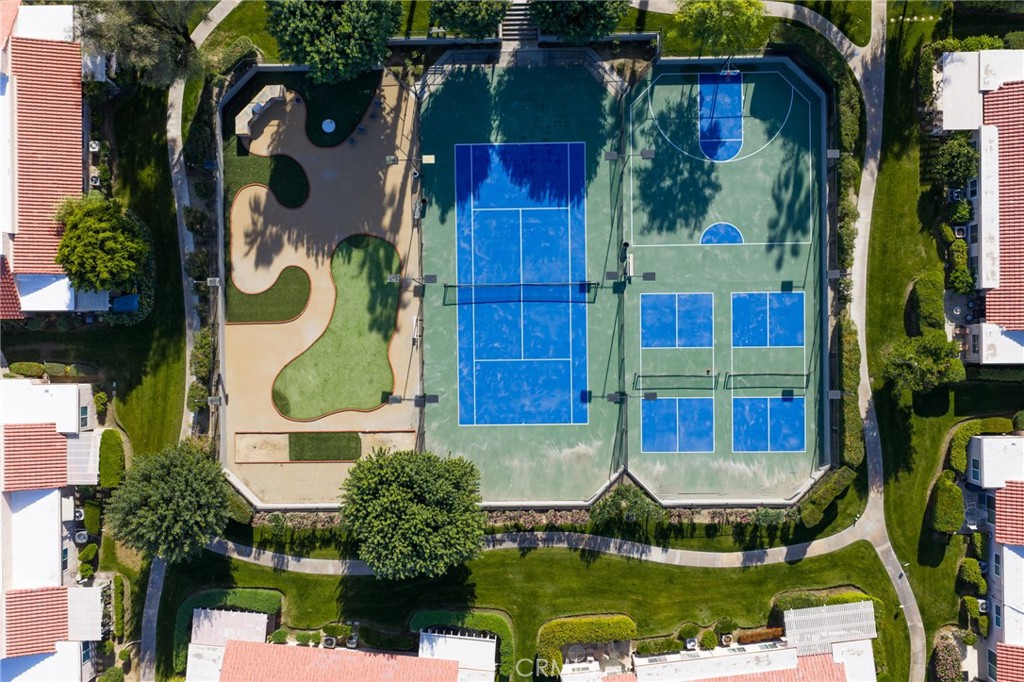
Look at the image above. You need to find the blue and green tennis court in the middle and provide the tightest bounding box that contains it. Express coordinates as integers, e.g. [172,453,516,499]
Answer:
[419,66,623,501]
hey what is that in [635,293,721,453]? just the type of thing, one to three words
sports court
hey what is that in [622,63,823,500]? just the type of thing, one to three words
basketball court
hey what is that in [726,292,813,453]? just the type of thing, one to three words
sports court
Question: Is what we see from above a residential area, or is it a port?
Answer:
residential area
